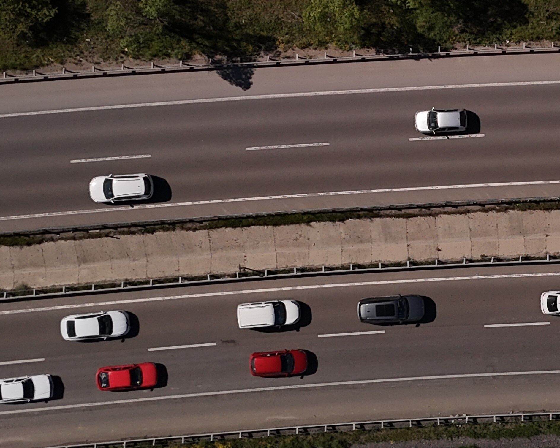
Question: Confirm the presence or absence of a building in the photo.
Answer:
No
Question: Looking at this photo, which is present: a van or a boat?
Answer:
van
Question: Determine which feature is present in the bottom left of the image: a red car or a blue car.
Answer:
red car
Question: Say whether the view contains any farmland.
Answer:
No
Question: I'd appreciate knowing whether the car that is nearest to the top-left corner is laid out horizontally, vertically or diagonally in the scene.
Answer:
horizontally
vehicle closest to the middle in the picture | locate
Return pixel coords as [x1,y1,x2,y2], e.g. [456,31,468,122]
[237,298,302,329]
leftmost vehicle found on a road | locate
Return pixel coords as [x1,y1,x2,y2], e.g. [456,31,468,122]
[0,374,55,404]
